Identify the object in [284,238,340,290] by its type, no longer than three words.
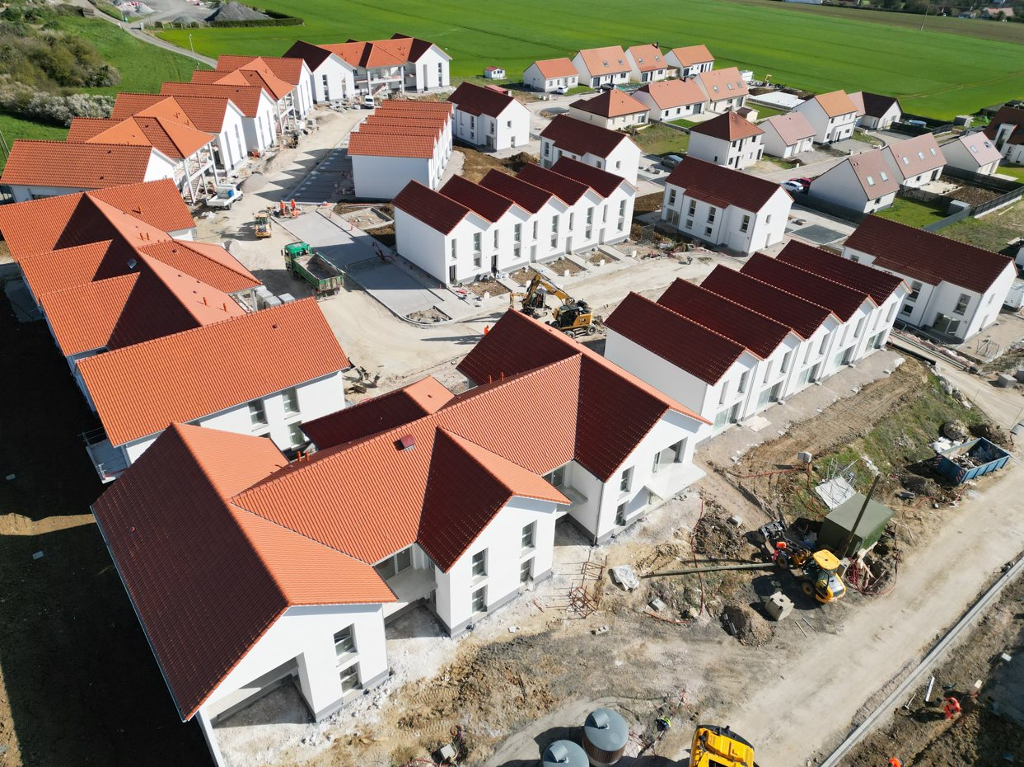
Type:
truck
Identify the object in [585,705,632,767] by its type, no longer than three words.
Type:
water tank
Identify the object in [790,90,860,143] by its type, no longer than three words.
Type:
house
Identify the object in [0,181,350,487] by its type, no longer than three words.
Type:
building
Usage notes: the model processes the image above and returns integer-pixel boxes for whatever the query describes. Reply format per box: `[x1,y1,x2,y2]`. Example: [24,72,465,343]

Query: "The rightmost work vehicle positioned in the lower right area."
[760,535,849,605]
